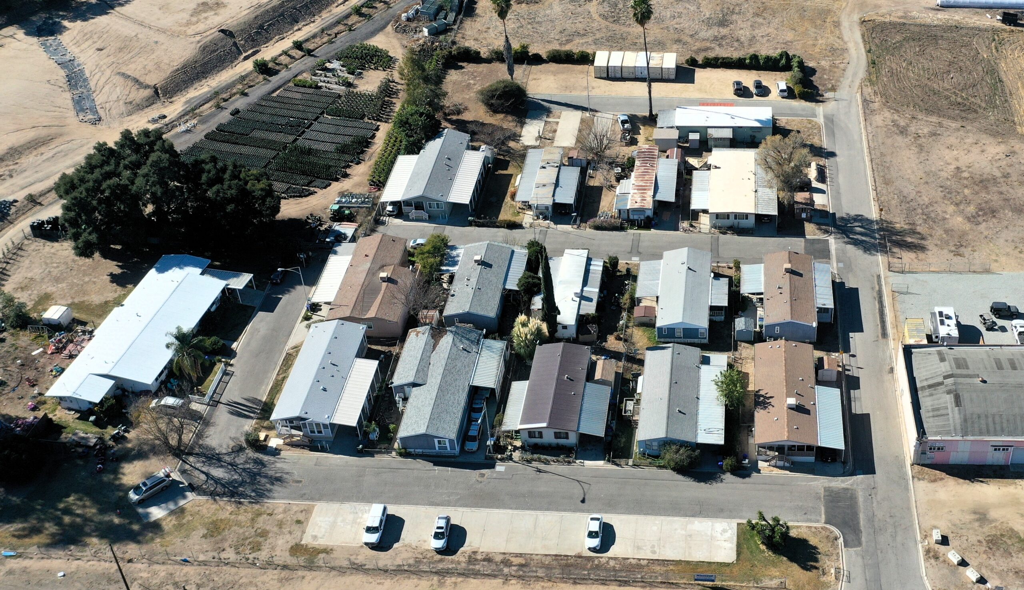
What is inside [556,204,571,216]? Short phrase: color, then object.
black vehicle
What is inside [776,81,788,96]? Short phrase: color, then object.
white vehicle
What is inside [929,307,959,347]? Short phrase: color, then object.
white vehicle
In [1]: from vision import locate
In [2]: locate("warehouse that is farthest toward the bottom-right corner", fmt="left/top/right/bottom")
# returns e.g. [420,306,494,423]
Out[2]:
[899,344,1024,469]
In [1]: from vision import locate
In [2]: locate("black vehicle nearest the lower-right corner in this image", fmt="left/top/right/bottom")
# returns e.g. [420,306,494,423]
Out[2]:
[820,447,838,469]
